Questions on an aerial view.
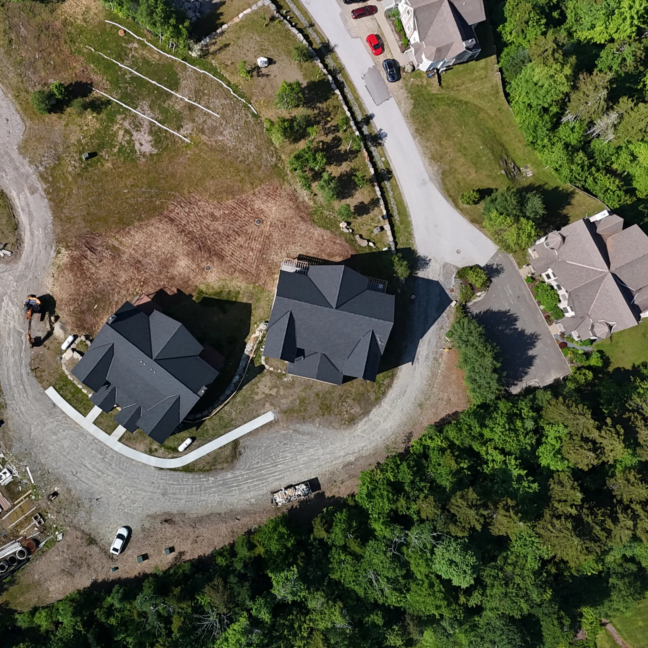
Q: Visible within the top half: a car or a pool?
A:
car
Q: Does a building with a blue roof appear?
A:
No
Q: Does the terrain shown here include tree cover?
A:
Yes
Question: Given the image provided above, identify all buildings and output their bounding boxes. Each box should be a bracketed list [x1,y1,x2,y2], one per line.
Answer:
[71,292,226,444]
[264,258,394,387]
[519,210,648,340]
[380,0,486,73]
